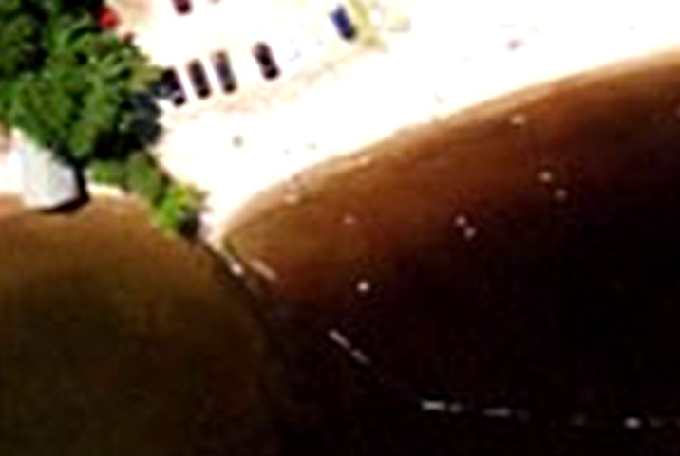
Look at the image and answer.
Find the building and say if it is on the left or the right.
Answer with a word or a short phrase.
left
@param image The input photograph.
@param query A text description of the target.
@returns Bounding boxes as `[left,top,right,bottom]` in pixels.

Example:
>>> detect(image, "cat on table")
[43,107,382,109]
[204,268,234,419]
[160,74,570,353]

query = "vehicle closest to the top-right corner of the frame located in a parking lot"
[329,1,355,43]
